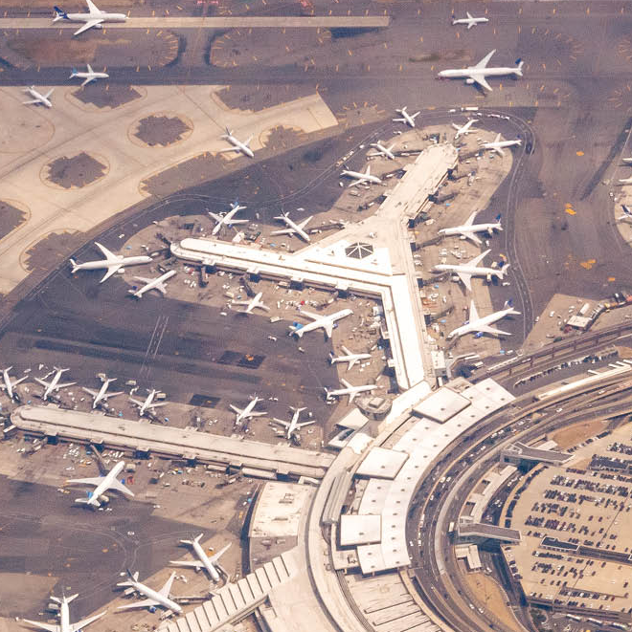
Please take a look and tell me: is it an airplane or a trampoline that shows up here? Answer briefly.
airplane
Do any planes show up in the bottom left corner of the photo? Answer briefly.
Yes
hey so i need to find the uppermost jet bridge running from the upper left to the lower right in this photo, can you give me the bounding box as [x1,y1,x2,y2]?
[153,230,172,245]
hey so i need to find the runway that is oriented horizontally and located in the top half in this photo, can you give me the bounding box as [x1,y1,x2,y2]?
[0,15,390,29]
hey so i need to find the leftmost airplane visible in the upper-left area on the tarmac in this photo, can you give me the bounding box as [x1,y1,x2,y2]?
[25,81,52,106]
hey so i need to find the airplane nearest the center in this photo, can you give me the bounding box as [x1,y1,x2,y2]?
[291,310,348,338]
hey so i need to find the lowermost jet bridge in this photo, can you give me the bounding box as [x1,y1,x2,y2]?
[169,593,212,605]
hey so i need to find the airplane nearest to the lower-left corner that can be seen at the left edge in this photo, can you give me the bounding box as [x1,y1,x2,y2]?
[20,590,108,632]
